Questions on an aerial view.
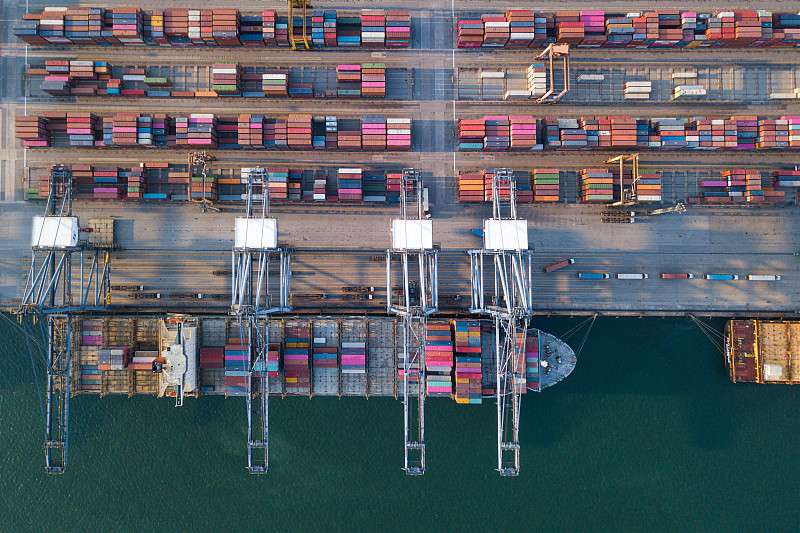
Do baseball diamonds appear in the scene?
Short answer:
No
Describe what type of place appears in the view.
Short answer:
port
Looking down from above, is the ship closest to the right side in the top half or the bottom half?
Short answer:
bottom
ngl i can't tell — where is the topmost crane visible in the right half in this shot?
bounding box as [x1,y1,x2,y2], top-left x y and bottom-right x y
[537,41,570,102]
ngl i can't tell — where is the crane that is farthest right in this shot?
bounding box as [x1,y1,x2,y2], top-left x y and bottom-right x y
[603,152,639,206]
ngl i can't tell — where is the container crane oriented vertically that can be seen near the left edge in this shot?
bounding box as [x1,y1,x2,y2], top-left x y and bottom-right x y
[13,163,120,474]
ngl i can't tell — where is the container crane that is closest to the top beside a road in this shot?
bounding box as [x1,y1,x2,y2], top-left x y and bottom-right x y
[286,0,313,49]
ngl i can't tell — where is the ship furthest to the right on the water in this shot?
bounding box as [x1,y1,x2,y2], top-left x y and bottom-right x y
[723,320,800,386]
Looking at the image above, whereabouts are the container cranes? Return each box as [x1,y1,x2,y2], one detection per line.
[227,163,298,475]
[286,0,313,49]
[603,152,639,206]
[465,166,536,477]
[13,163,120,474]
[381,165,442,476]
[184,148,215,204]
[537,41,570,102]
